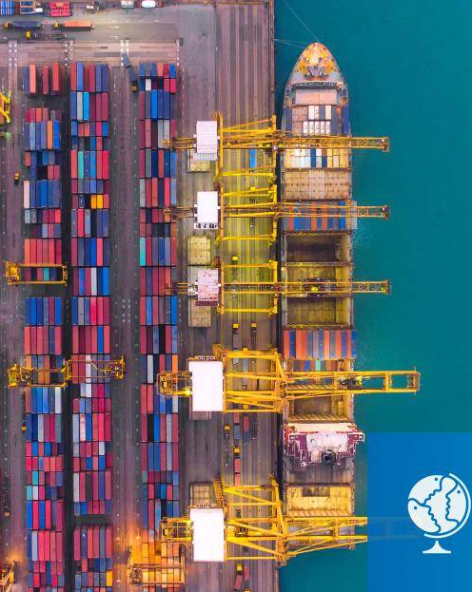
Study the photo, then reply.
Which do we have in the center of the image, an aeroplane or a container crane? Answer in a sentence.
It is a container crane that can be seen in the center of the image.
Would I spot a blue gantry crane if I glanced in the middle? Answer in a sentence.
No, no blue gantry crane appears in the middle.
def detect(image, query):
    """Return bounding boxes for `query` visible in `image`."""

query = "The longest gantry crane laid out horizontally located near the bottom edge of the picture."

[156,479,424,569]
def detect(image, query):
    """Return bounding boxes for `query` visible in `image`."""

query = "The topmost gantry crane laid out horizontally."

[156,114,389,182]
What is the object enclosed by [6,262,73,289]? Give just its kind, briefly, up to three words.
container crane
